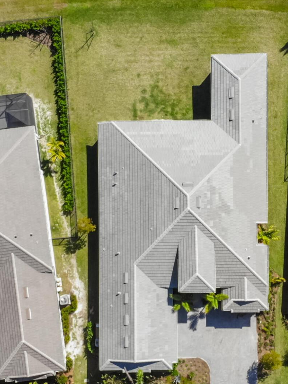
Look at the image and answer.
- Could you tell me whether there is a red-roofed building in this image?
No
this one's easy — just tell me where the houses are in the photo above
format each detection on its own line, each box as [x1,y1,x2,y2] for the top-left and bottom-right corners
[0,125,68,380]
[99,52,269,373]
